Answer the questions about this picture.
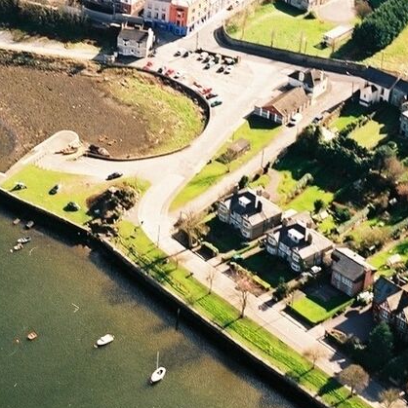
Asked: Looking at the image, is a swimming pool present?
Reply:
No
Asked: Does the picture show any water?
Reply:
Yes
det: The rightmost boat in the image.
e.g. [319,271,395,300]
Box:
[151,368,165,383]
